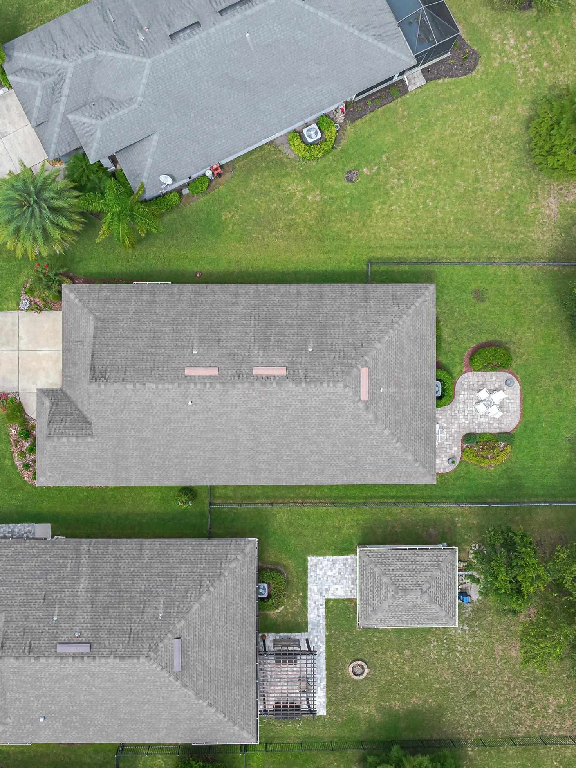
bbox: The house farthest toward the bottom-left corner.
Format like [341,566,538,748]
[0,532,259,746]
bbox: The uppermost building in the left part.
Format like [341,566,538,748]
[0,0,418,205]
